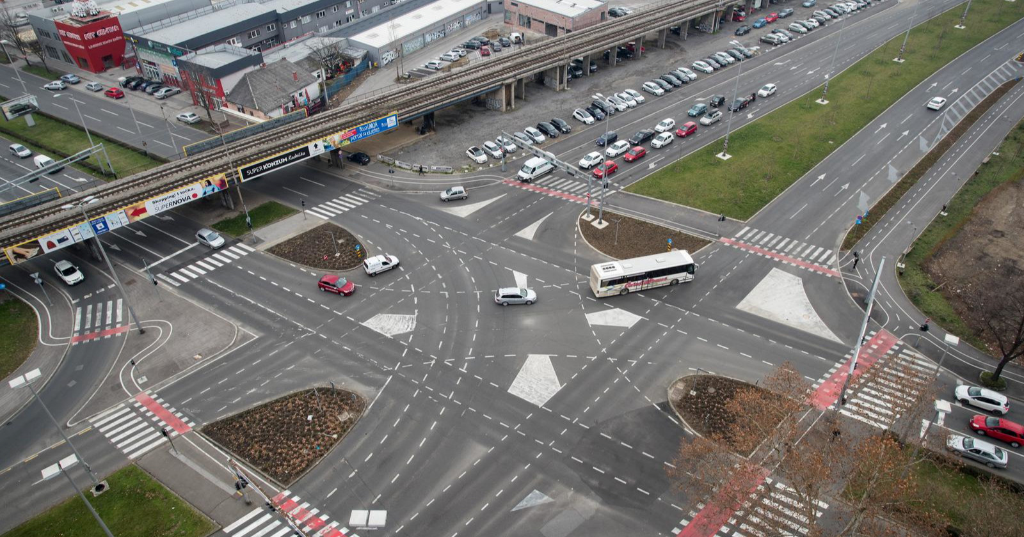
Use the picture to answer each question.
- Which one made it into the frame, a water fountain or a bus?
bus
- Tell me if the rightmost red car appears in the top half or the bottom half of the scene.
bottom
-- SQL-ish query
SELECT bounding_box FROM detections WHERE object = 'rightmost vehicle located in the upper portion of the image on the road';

[924,97,948,111]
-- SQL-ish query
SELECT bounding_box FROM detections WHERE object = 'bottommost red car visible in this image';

[969,417,1024,450]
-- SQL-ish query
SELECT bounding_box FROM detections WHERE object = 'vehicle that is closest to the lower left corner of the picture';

[55,261,82,285]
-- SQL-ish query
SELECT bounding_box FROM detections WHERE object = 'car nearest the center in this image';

[495,288,535,306]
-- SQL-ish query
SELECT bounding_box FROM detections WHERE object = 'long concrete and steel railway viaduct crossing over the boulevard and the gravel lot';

[0,0,806,265]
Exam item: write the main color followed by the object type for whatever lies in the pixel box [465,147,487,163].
white car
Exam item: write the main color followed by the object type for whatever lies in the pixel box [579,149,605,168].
white car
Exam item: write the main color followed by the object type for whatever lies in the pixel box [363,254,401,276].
white vehicle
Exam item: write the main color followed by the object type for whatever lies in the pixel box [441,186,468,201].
gray car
